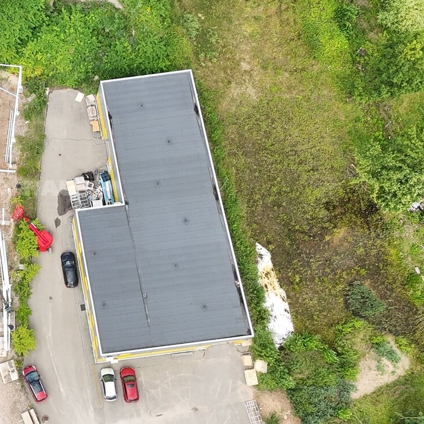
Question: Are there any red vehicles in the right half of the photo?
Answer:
No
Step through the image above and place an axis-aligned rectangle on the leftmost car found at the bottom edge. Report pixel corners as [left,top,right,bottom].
[23,365,49,405]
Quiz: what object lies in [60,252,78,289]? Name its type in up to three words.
car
